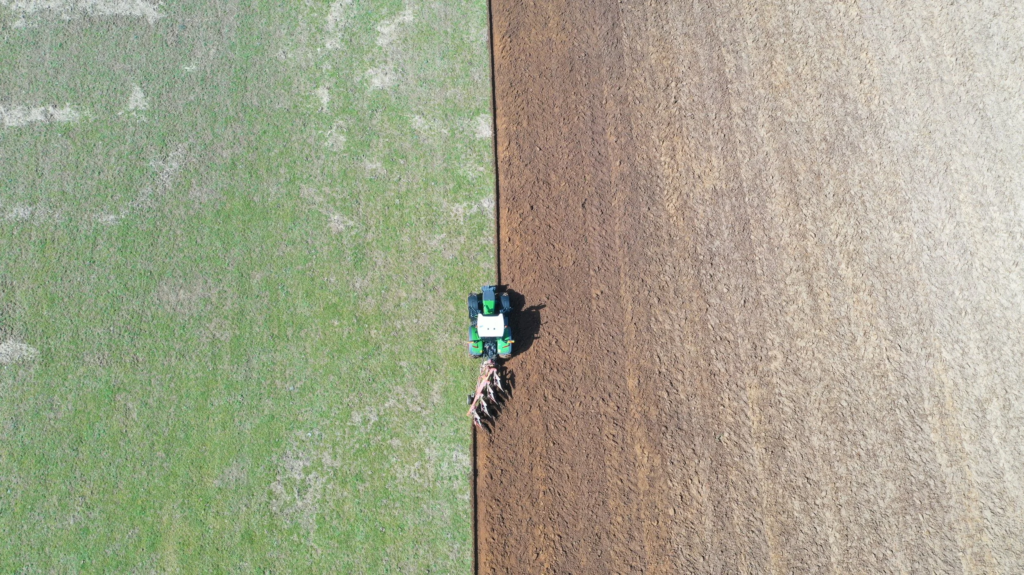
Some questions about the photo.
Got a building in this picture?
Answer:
No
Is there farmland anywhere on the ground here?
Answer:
Yes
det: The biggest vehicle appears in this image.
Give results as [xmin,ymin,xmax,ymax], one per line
[467,284,513,363]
